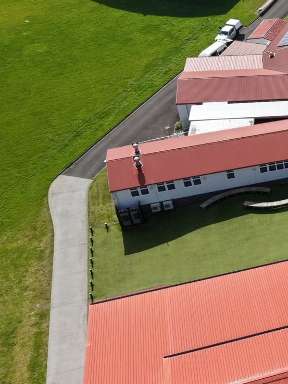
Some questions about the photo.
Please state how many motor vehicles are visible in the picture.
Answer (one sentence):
Altogether the scene contains 2 motor vehicles.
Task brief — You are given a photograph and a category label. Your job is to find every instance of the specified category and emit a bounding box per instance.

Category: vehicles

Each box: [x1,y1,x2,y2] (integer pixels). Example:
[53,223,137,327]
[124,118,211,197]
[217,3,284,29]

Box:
[215,13,242,43]
[196,35,229,57]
